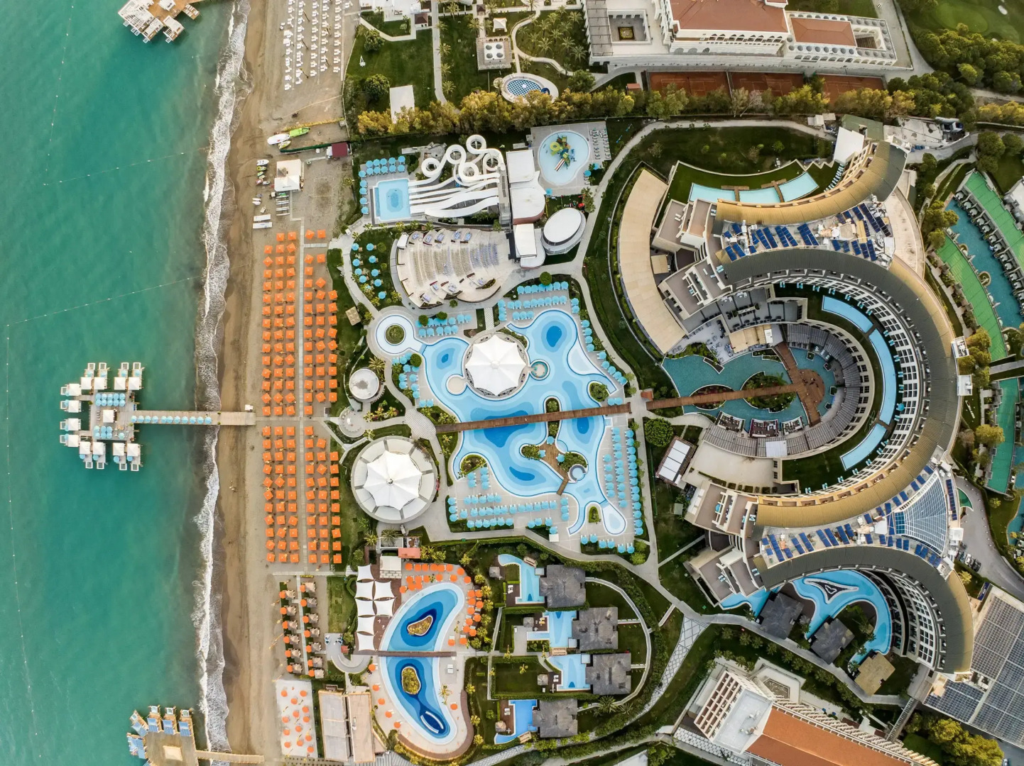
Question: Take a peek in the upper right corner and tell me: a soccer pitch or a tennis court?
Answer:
tennis court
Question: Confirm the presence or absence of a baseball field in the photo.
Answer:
No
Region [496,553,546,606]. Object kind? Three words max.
swimming pool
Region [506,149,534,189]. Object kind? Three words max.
building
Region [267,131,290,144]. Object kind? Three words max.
boat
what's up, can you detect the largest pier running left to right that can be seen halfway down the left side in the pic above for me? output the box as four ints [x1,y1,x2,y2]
[74,389,256,444]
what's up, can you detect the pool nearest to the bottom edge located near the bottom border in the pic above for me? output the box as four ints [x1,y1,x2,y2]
[492,701,539,747]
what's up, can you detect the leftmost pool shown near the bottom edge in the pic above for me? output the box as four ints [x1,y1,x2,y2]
[376,580,467,748]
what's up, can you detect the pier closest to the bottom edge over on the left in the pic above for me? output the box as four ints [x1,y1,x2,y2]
[144,732,265,766]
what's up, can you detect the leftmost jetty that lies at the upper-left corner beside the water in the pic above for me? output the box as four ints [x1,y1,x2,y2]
[137,0,202,41]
